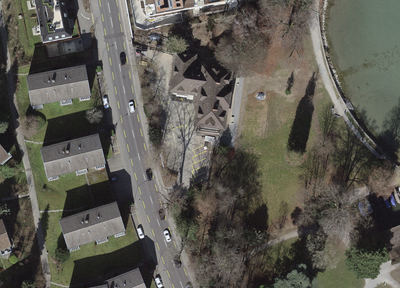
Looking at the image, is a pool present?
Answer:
No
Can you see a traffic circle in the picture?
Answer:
No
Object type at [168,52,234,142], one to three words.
house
